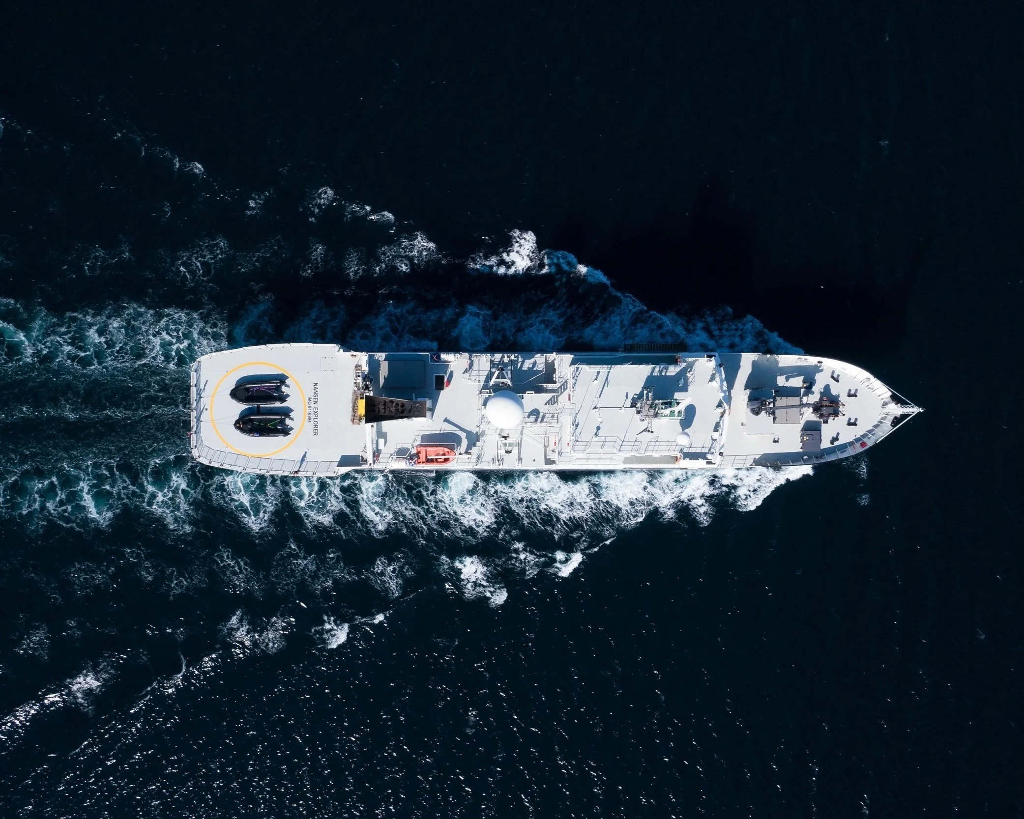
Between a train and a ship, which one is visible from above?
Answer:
ship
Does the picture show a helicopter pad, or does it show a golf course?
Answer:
helicopter pad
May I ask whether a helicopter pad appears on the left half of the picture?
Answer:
Yes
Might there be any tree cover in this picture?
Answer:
No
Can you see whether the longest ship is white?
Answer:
Yes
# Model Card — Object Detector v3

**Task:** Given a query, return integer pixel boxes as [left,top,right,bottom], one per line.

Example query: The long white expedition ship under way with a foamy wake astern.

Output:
[337,343,925,475]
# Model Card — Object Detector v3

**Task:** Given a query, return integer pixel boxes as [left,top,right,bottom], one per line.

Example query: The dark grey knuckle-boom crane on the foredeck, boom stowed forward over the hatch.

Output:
[740,401,818,418]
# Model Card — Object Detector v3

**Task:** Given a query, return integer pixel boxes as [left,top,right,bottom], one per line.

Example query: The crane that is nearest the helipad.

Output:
[366,423,379,472]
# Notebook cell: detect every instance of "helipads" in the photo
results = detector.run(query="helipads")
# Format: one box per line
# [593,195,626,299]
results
[186,343,366,476]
